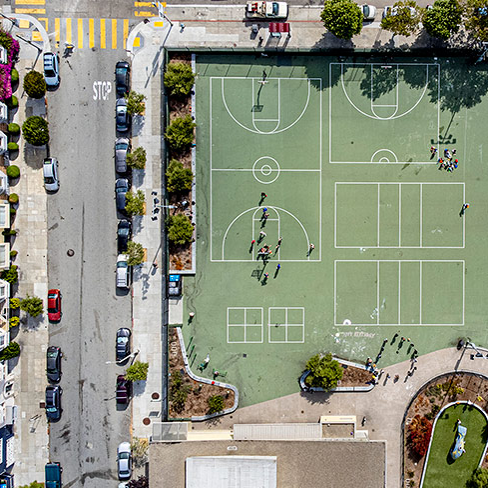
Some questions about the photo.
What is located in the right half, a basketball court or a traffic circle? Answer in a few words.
basketball court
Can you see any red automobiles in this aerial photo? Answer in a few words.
Yes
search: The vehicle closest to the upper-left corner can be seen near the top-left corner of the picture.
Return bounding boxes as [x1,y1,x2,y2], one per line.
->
[43,53,60,89]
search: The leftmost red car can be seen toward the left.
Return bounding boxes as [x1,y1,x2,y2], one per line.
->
[46,288,63,321]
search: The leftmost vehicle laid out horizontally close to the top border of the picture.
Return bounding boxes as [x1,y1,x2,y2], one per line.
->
[245,0,288,20]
